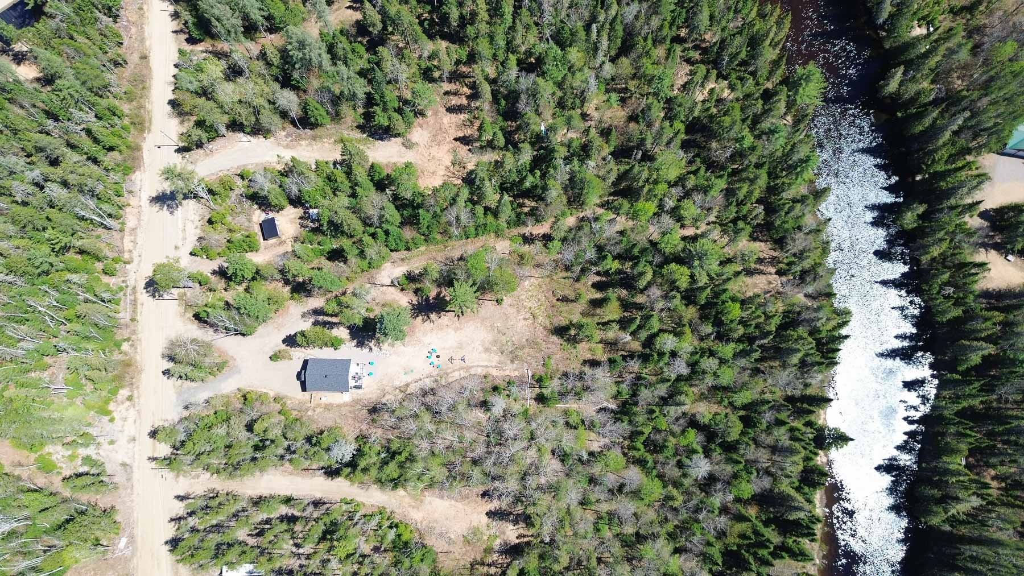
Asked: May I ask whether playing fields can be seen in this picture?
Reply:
No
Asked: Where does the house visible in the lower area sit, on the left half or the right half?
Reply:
left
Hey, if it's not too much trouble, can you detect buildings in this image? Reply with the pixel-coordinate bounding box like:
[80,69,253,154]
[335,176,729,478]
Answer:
[300,358,368,395]
[262,218,282,245]
[0,0,53,27]
[996,121,1024,162]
